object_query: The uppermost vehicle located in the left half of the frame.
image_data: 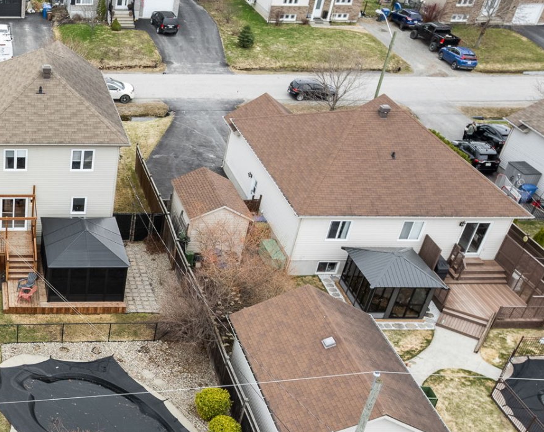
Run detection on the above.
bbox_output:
[151,12,179,33]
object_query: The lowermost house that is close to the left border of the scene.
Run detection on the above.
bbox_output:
[0,40,130,247]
